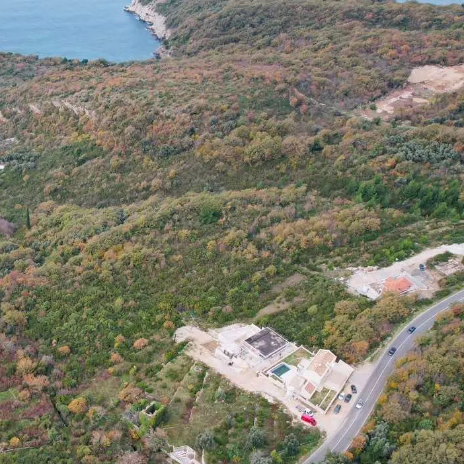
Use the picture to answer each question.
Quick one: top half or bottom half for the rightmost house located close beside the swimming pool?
bottom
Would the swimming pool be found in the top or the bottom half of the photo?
bottom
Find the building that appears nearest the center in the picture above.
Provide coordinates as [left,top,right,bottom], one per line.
[216,322,296,374]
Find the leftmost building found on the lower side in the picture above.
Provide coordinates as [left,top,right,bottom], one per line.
[137,400,166,426]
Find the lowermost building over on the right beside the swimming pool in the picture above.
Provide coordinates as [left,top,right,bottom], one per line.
[285,349,355,407]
